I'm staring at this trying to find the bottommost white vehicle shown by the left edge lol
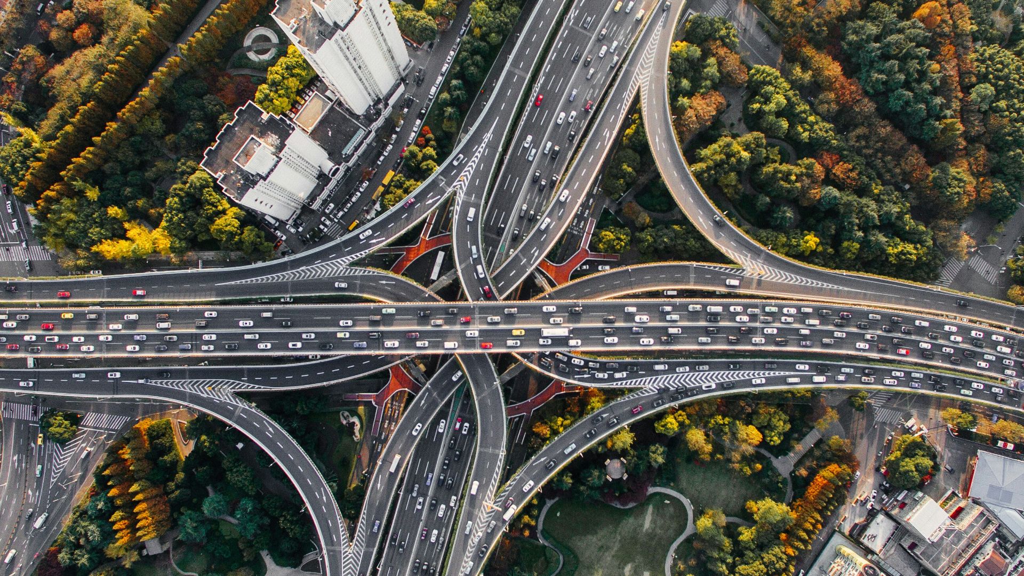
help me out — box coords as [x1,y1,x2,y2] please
[1,546,16,566]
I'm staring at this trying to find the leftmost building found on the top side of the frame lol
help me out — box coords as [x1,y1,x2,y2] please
[199,100,325,216]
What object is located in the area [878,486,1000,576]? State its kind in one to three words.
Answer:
building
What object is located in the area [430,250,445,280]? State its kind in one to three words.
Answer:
vehicle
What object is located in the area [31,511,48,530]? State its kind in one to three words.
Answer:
vehicle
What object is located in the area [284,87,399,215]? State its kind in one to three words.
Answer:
building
